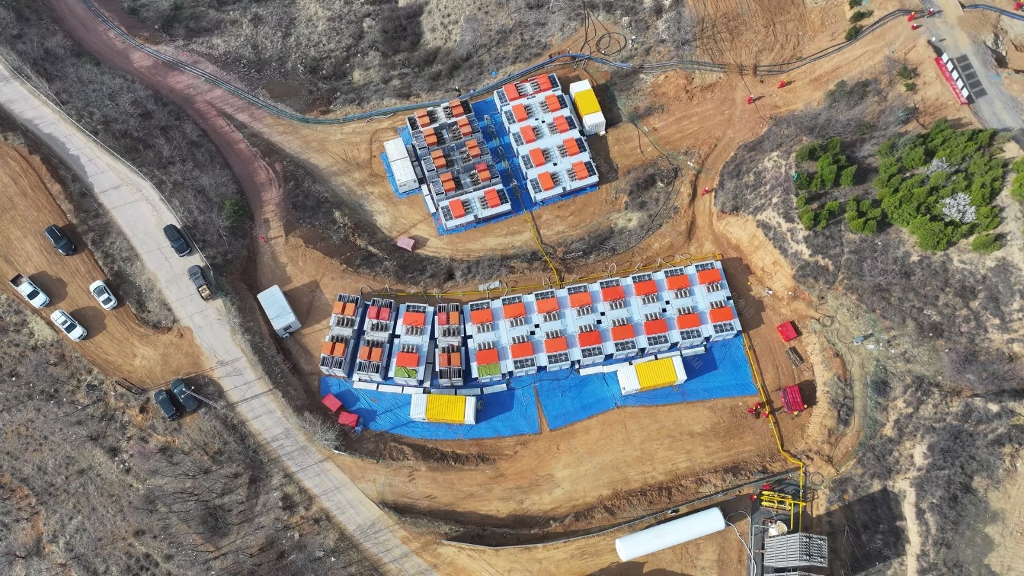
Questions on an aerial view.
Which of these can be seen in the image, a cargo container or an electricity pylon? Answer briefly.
cargo container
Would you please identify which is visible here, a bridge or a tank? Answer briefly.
tank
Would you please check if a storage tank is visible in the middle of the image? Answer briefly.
No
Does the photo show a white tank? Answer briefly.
Yes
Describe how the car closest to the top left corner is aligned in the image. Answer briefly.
on a diagonal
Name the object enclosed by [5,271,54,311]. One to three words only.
truck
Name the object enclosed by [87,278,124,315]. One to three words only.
car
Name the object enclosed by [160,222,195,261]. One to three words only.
car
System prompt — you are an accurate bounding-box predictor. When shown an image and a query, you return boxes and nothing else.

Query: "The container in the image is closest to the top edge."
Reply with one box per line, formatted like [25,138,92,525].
[567,79,608,140]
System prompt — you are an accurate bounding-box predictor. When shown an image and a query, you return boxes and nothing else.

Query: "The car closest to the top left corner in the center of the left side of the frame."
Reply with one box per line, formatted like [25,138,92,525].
[42,223,81,260]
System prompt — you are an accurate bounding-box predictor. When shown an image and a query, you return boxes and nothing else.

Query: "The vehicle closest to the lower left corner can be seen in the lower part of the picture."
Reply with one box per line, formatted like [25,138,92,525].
[149,388,182,428]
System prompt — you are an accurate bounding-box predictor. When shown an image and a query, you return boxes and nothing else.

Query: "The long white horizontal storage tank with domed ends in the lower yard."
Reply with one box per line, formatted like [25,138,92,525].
[614,507,733,562]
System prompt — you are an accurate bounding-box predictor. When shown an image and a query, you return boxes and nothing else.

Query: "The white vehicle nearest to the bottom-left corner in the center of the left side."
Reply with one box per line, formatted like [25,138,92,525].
[49,308,92,345]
